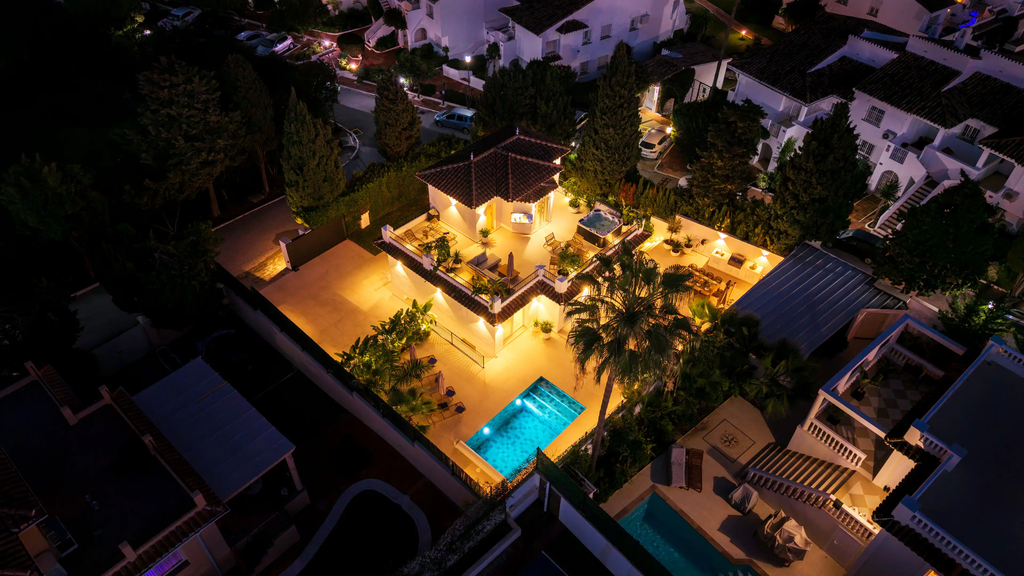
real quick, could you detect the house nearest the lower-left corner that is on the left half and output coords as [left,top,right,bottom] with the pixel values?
[0,368,229,576]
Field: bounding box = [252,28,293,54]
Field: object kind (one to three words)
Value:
car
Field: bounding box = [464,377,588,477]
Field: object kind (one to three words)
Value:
swimming pool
